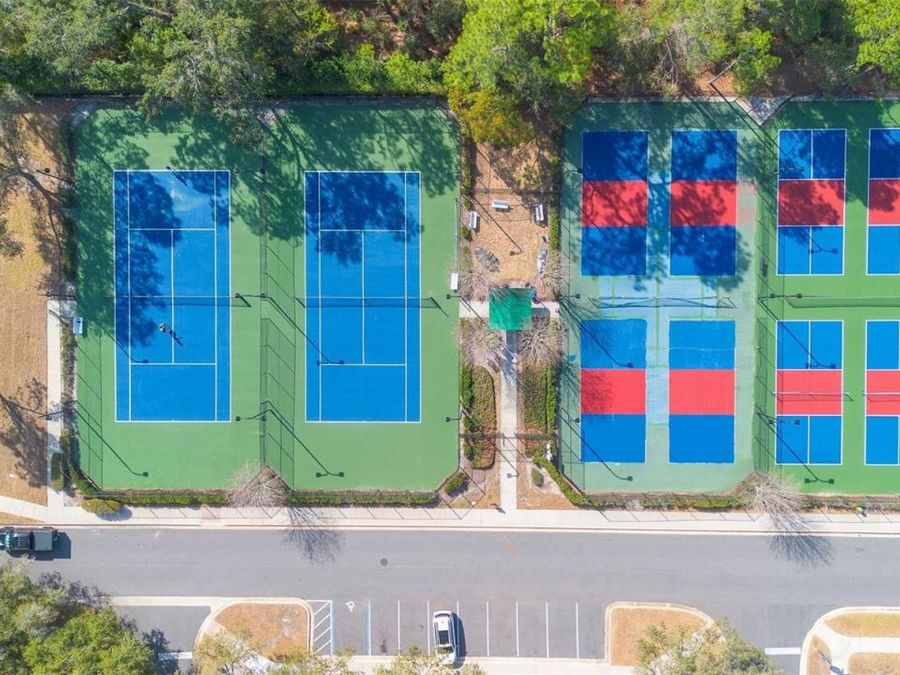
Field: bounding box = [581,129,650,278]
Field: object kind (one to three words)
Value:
sports court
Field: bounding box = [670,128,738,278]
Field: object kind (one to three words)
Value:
sports court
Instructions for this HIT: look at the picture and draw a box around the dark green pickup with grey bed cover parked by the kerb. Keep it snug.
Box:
[0,530,54,558]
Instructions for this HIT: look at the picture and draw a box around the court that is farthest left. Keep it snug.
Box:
[112,169,231,422]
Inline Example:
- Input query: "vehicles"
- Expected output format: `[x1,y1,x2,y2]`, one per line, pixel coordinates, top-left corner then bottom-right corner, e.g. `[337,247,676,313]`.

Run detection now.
[0,530,54,558]
[434,612,460,667]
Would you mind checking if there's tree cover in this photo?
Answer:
Yes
